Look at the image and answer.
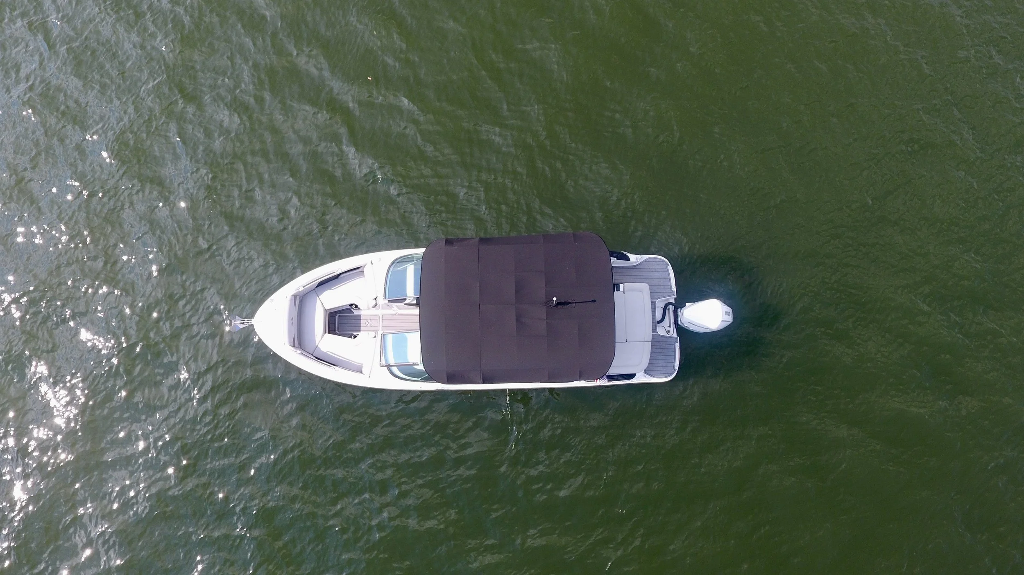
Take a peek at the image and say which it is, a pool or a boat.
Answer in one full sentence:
It is a boat that can be seen here.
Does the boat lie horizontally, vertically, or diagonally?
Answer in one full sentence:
From this overhead view, the boat appears to run horizontally.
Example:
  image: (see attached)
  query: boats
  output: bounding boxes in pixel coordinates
[244,231,734,391]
